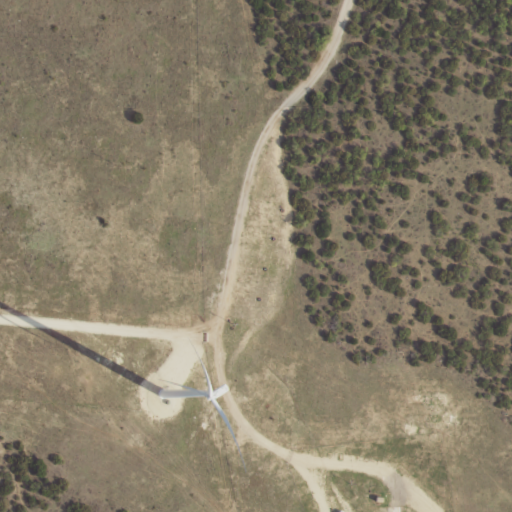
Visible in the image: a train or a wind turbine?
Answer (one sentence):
It is a wind turbine that can be seen here.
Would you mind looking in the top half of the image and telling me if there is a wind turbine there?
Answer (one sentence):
No, no wind turbine appears in the top half of the image.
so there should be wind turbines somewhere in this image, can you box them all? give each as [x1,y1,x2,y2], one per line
[156,338,248,472]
